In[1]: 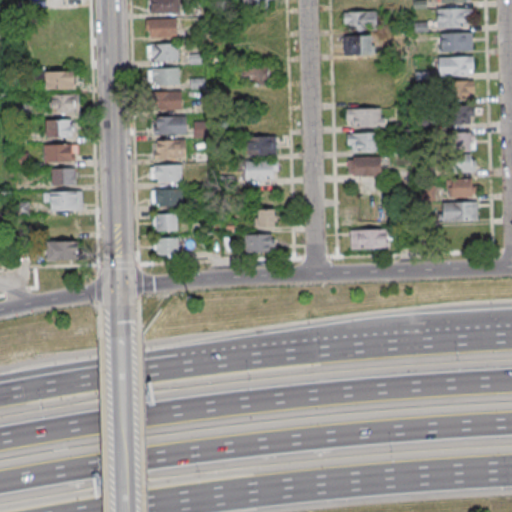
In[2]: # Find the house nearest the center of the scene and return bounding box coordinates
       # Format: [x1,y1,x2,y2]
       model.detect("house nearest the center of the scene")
[245,235,275,253]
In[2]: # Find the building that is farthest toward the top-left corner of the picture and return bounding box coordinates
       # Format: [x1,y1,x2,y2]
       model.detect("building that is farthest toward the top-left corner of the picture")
[44,72,76,89]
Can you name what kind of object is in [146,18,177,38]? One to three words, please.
house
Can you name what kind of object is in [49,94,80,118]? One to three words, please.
house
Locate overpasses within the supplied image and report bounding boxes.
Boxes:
[97,304,148,512]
